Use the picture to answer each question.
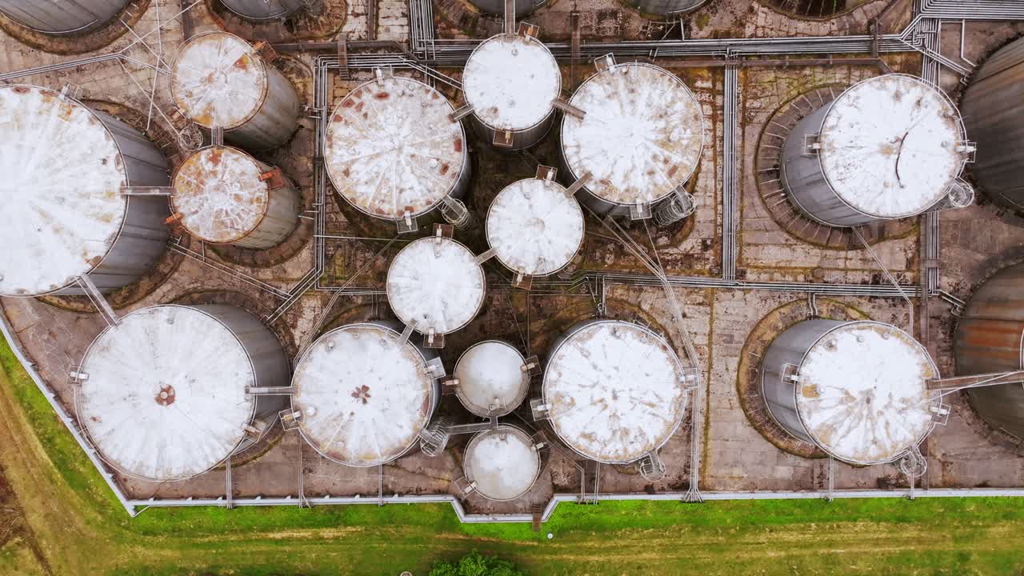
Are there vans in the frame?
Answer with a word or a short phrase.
No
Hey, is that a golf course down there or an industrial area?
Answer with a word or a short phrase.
industrial area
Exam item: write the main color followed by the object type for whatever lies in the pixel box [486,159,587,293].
white storage tank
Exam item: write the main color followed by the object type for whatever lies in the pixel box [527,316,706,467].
white storage tank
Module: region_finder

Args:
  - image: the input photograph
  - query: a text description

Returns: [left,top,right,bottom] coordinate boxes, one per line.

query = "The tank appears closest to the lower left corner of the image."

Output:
[52,301,290,485]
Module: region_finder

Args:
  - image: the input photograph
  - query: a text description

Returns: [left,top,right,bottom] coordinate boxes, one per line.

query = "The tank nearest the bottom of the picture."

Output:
[451,409,555,506]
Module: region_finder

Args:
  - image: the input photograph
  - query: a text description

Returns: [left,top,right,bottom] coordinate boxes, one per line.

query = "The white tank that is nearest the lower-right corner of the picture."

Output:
[758,317,963,468]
